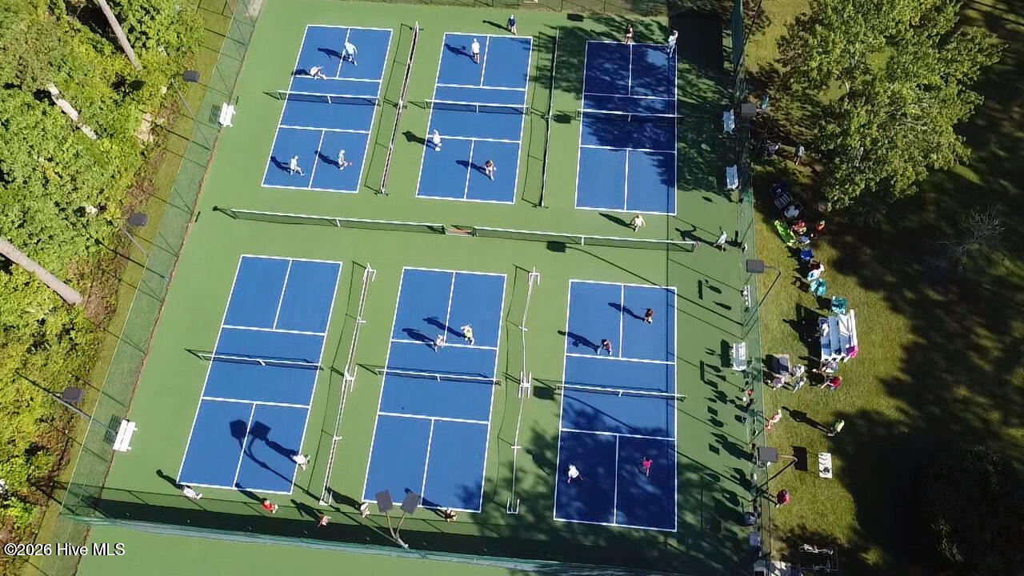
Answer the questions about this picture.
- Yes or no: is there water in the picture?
No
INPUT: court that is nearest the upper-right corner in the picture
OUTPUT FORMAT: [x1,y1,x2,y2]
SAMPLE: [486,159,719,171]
[576,41,676,215]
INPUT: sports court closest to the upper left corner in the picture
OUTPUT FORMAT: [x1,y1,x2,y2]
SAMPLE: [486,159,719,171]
[262,25,392,192]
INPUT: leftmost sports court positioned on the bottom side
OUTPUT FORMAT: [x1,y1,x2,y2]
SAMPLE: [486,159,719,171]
[178,255,342,494]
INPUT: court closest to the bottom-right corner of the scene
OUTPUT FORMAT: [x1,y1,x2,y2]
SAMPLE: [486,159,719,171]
[554,280,676,531]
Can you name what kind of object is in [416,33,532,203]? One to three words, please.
sports court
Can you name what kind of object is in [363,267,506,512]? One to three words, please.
sports court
